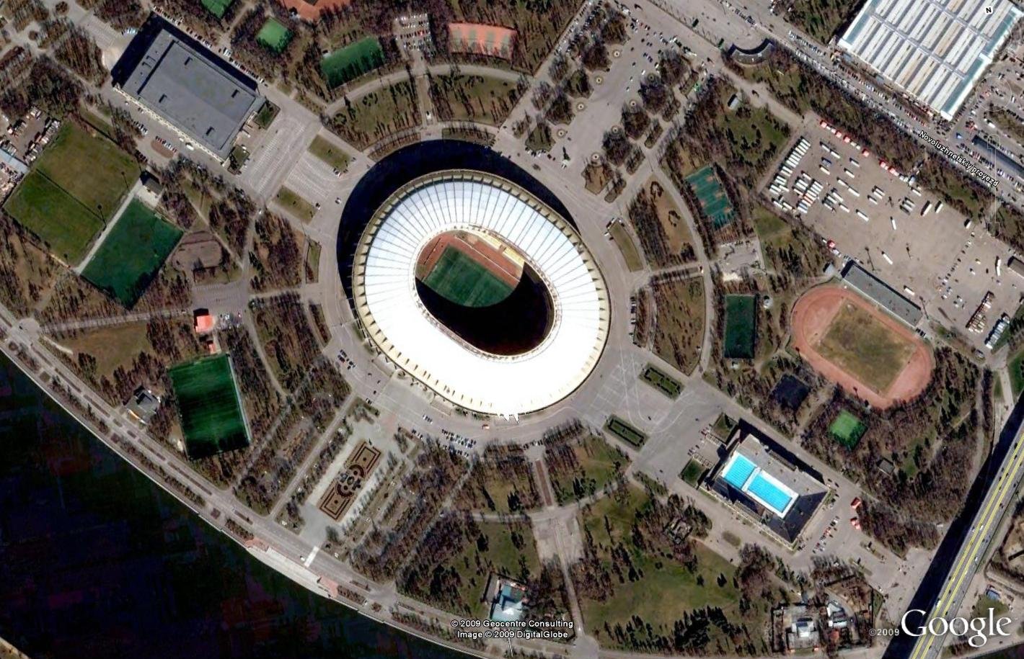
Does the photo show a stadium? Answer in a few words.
Yes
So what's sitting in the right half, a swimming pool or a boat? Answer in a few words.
swimming pool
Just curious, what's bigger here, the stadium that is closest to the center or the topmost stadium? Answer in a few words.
the stadium that is closest to the center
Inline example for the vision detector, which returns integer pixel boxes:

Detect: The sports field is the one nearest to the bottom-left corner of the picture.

[169,354,249,459]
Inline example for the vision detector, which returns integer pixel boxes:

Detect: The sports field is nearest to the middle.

[419,245,529,349]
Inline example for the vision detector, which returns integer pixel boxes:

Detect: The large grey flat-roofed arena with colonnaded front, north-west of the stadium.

[115,29,257,168]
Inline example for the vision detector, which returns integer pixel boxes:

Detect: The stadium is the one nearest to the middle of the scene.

[348,170,610,424]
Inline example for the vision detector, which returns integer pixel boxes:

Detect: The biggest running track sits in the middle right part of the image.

[792,287,935,410]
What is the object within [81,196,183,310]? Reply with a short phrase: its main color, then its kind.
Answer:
green sports field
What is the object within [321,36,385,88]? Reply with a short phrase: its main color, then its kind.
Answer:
green sports field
